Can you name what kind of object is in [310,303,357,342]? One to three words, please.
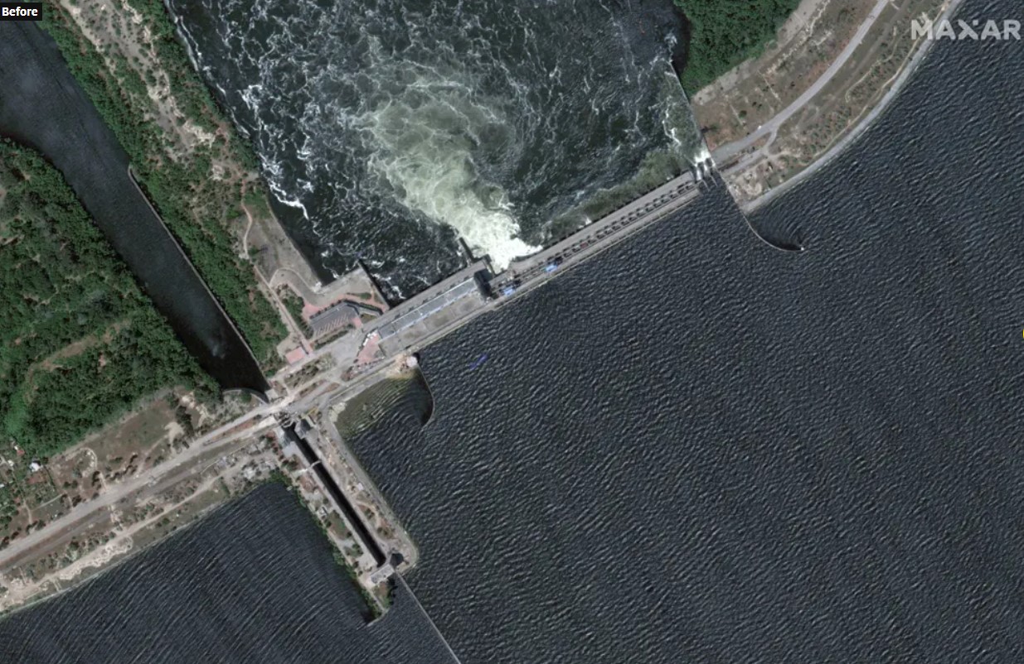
building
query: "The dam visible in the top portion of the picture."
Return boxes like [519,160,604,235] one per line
[490,170,702,312]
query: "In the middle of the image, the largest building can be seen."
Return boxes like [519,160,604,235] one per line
[378,257,509,366]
